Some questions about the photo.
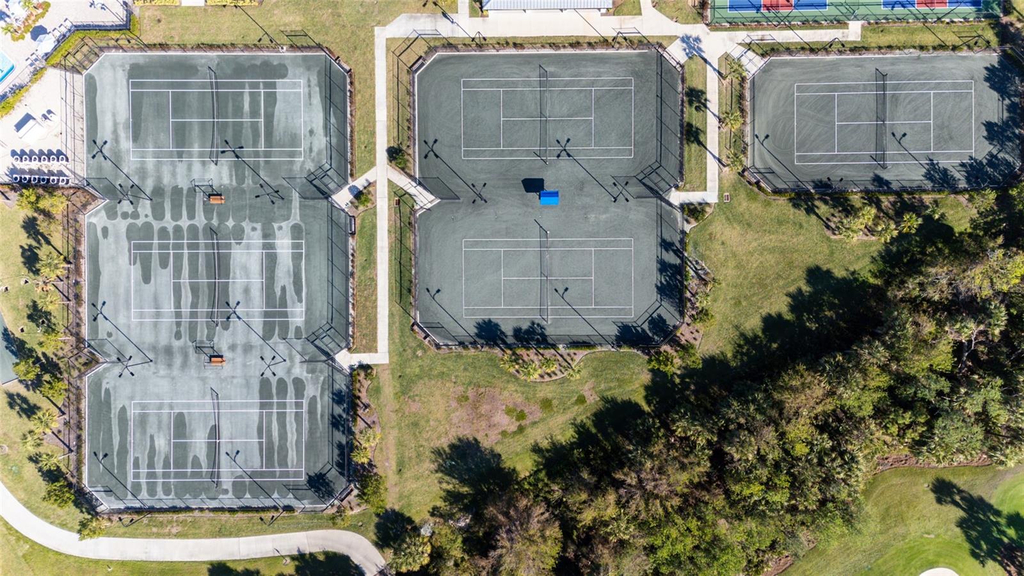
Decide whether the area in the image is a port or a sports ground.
sports ground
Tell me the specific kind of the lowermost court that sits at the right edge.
tennis court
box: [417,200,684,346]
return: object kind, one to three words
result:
tennis court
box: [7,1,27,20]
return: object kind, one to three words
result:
umbrella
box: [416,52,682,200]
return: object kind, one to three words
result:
tennis court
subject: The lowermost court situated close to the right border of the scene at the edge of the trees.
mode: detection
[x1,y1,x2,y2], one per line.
[749,58,1022,191]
